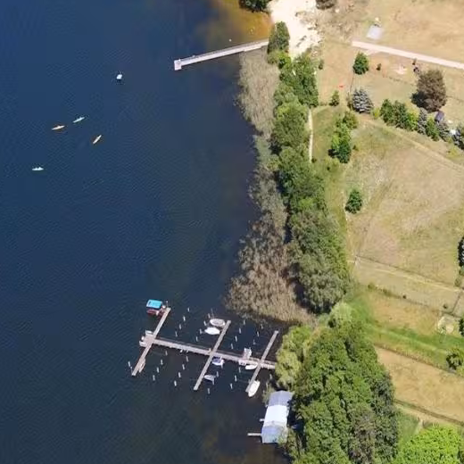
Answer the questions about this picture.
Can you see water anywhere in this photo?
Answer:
Yes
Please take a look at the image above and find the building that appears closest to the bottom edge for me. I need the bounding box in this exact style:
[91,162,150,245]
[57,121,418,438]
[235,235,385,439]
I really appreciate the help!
[249,392,294,452]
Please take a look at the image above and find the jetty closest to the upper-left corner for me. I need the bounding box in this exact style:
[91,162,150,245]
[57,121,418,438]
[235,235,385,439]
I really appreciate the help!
[173,38,270,70]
